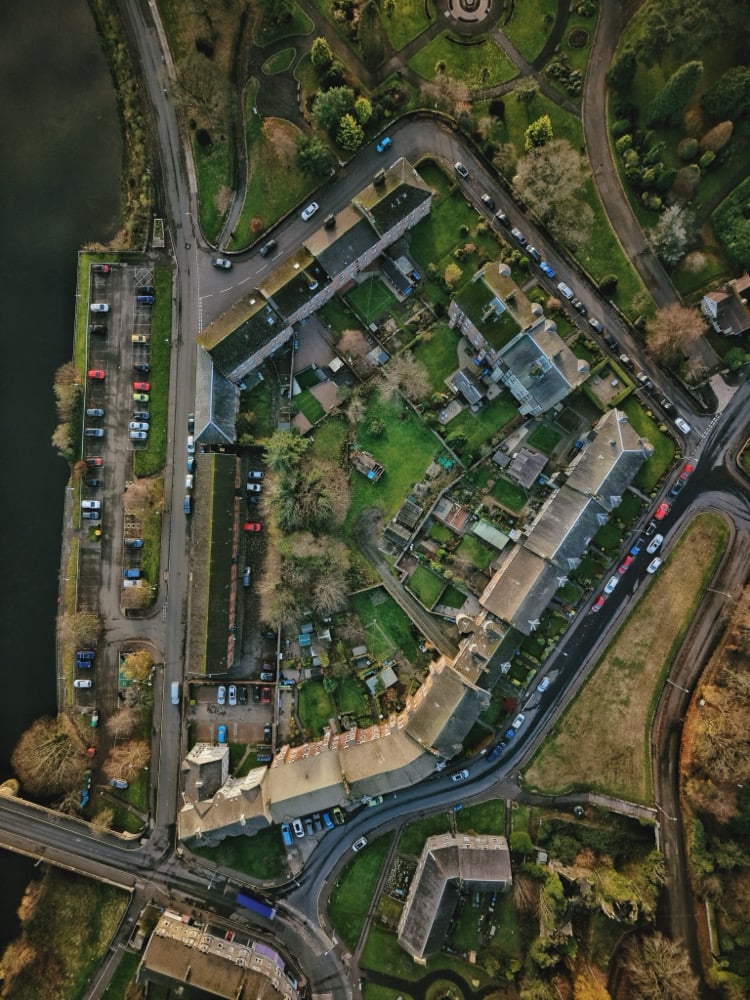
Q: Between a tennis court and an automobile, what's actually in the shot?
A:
automobile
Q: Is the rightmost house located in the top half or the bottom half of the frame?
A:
top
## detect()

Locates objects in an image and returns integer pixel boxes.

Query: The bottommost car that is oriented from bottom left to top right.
[350,838,368,854]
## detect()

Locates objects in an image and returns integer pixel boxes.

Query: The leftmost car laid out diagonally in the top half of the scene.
[258,239,276,255]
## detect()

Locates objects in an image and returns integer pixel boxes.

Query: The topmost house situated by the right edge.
[696,276,750,342]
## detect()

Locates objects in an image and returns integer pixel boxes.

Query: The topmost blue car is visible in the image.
[375,136,392,150]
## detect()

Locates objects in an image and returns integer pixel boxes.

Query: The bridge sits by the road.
[0,776,132,896]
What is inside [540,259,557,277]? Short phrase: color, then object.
blue car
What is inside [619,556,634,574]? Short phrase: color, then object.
red car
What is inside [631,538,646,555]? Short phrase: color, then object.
blue car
